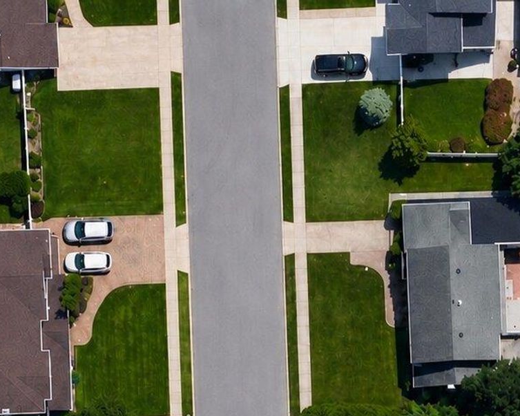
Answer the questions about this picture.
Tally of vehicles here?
three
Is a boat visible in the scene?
No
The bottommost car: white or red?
white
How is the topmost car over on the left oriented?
from side to side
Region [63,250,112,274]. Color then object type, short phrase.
white car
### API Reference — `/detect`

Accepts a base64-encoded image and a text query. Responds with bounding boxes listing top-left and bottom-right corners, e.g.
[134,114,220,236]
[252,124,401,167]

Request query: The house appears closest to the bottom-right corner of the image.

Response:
[402,196,520,393]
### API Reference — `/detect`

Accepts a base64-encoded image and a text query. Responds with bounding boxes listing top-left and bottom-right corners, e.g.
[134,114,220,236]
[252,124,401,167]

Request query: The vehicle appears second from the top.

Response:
[61,218,114,244]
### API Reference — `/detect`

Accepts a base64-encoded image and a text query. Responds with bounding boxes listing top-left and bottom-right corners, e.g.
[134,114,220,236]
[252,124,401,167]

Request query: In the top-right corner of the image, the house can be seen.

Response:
[385,0,497,59]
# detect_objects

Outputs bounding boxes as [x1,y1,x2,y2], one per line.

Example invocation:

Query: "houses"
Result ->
[385,0,497,59]
[0,230,73,416]
[402,196,520,393]
[0,0,60,71]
